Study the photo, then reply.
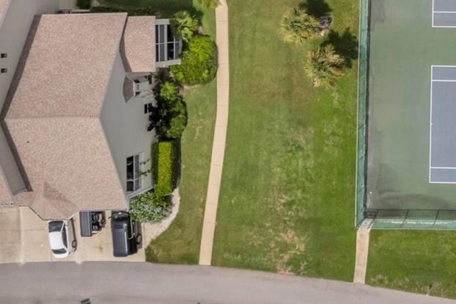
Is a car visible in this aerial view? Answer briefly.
Yes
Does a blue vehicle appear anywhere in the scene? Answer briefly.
No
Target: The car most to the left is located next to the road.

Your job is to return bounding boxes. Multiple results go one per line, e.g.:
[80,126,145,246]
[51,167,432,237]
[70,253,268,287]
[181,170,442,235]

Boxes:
[47,215,77,258]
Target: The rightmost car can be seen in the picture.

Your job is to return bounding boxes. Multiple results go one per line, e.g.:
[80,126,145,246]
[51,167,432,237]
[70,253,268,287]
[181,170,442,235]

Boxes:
[110,205,141,257]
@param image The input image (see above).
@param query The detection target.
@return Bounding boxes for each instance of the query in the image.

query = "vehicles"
[79,211,104,237]
[47,215,77,258]
[110,205,141,257]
